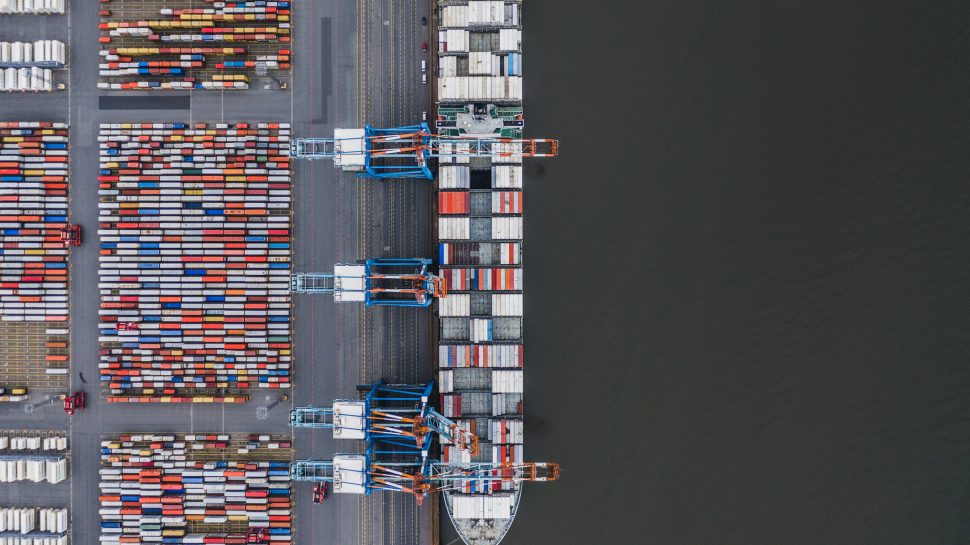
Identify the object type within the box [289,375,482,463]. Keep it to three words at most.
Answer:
container crane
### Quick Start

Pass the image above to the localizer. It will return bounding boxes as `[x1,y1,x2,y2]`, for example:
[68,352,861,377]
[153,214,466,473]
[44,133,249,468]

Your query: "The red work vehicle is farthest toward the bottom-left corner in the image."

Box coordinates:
[62,393,84,416]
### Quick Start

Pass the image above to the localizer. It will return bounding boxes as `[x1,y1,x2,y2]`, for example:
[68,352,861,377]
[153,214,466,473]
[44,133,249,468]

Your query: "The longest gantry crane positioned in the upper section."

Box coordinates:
[289,122,562,187]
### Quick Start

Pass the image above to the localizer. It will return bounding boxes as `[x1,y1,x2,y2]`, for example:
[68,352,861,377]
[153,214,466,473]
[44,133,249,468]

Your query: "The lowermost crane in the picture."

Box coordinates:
[289,427,562,499]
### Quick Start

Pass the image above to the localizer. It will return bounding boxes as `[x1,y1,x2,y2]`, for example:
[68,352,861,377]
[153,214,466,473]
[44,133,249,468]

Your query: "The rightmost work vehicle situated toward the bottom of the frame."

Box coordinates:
[310,483,328,508]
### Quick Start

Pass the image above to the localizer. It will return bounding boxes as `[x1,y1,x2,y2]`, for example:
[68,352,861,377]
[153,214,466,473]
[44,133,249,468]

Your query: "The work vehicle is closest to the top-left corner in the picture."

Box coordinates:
[58,225,81,245]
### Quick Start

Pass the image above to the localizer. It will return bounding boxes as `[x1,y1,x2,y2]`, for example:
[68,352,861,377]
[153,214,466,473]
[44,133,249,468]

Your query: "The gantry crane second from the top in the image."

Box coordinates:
[289,257,449,306]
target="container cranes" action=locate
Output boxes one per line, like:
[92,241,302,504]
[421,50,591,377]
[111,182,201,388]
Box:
[289,257,449,306]
[289,427,562,499]
[289,122,562,187]
[289,375,482,463]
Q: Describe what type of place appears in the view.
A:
port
